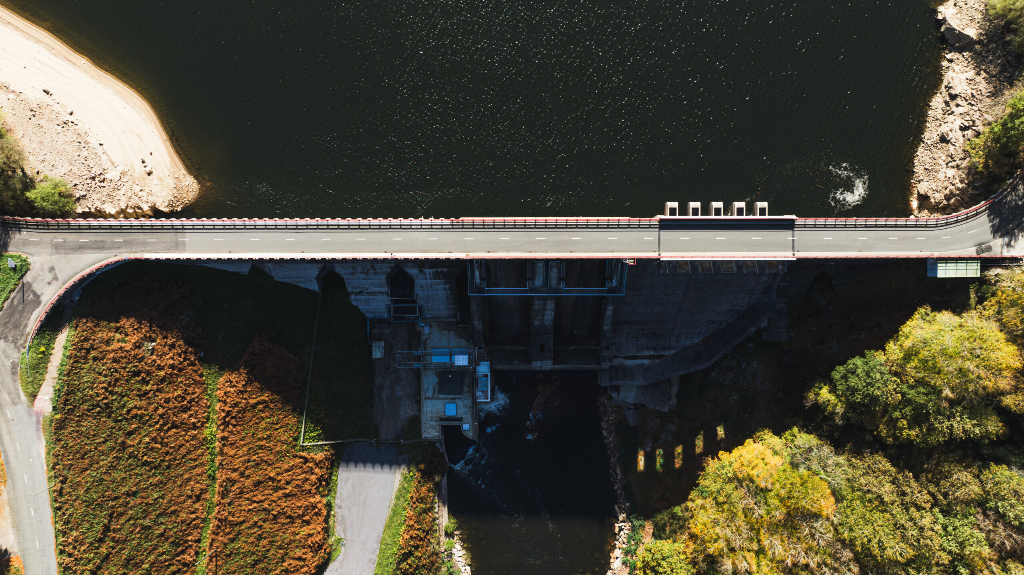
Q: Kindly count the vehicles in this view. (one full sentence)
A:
Not a single vehicle can be seen.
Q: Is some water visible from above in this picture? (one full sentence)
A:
Yes, there is water in the image.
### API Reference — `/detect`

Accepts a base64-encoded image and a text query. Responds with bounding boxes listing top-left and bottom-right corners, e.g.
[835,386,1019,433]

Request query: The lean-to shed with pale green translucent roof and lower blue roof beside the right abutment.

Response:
[924,261,980,277]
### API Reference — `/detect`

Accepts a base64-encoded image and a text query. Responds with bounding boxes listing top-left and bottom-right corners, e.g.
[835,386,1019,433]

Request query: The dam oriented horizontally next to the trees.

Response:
[0,177,1023,388]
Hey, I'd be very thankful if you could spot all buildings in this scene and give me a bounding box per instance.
[372,341,385,358]
[418,321,491,439]
[924,261,980,277]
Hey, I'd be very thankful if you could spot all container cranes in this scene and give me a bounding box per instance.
[395,349,476,368]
